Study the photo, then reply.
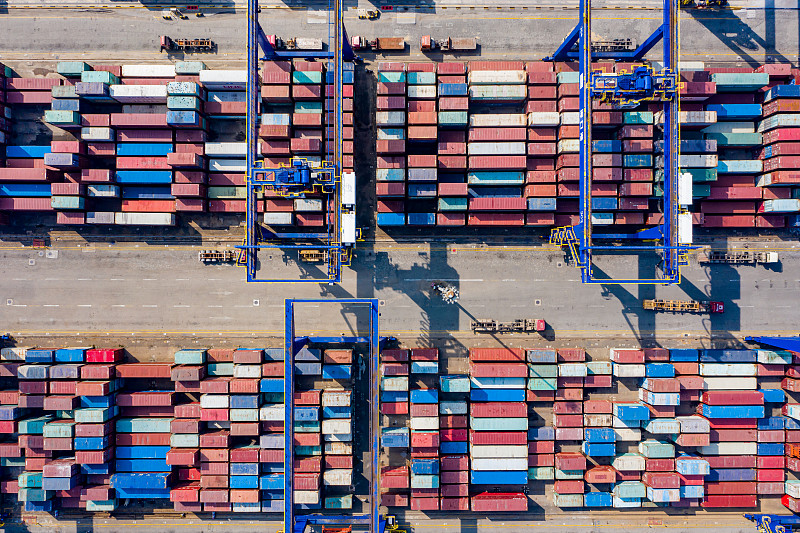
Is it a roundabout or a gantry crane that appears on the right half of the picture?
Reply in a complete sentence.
The one visible on the right half of the picture is a gantry crane.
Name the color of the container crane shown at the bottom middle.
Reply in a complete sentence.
The container crane shown at the bottom middle is blue.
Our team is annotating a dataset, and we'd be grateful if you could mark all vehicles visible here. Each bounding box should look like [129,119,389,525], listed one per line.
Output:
[593,38,638,51]
[352,35,377,51]
[363,7,378,20]
[470,319,544,332]
[698,251,777,263]
[297,251,334,262]
[642,300,723,313]
[268,35,295,51]
[162,35,216,51]
[198,250,247,263]
[420,35,449,51]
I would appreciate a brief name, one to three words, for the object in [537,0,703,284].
container crane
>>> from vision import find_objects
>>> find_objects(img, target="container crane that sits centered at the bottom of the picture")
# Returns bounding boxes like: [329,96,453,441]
[282,299,402,533]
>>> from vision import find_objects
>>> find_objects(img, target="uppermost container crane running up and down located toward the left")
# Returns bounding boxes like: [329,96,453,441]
[234,0,370,284]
